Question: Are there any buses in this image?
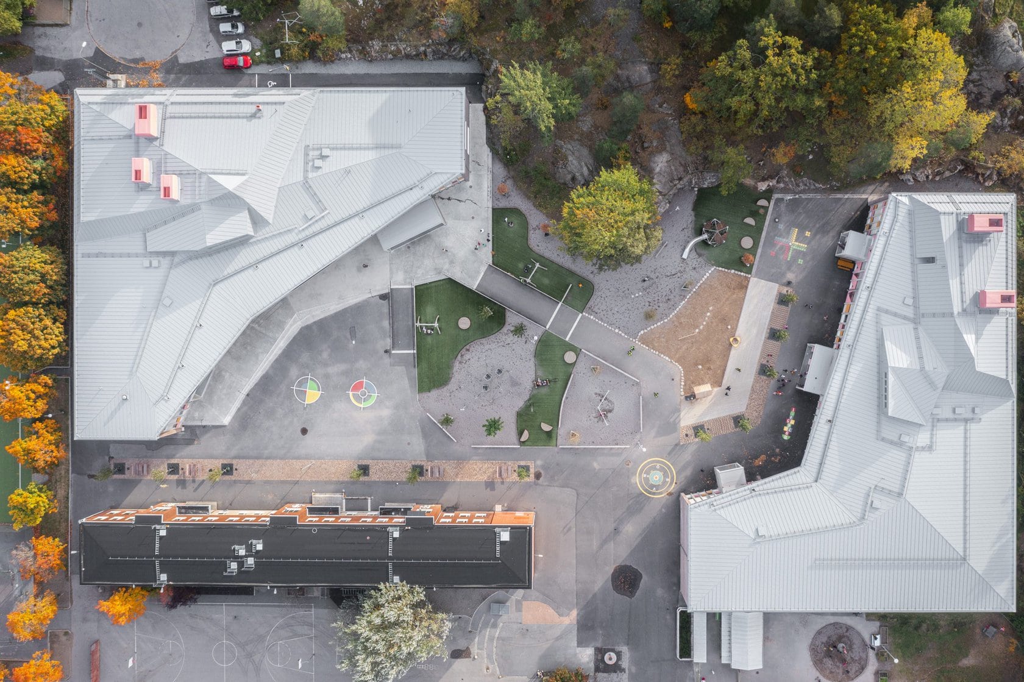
No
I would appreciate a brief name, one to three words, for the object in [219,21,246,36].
car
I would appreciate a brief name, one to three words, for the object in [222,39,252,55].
car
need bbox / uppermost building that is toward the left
[74,88,469,439]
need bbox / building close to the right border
[679,193,1016,618]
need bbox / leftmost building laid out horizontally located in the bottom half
[79,492,535,589]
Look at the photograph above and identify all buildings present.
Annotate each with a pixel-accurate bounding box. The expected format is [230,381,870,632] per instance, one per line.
[79,492,535,589]
[679,193,1016,618]
[692,384,714,402]
[74,88,469,439]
